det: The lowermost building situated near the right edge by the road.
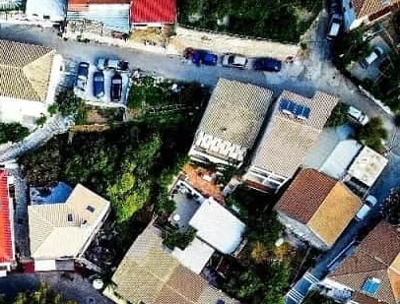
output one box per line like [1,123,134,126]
[316,221,400,304]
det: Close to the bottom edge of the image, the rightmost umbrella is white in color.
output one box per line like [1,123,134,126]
[91,276,105,292]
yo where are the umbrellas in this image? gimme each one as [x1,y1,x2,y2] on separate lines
[171,213,182,224]
[91,276,105,292]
